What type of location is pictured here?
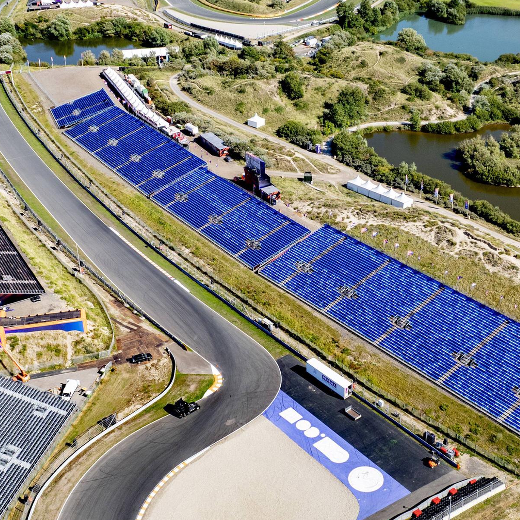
sports ground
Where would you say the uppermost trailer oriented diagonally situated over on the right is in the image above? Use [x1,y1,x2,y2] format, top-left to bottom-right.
[308,357,353,397]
